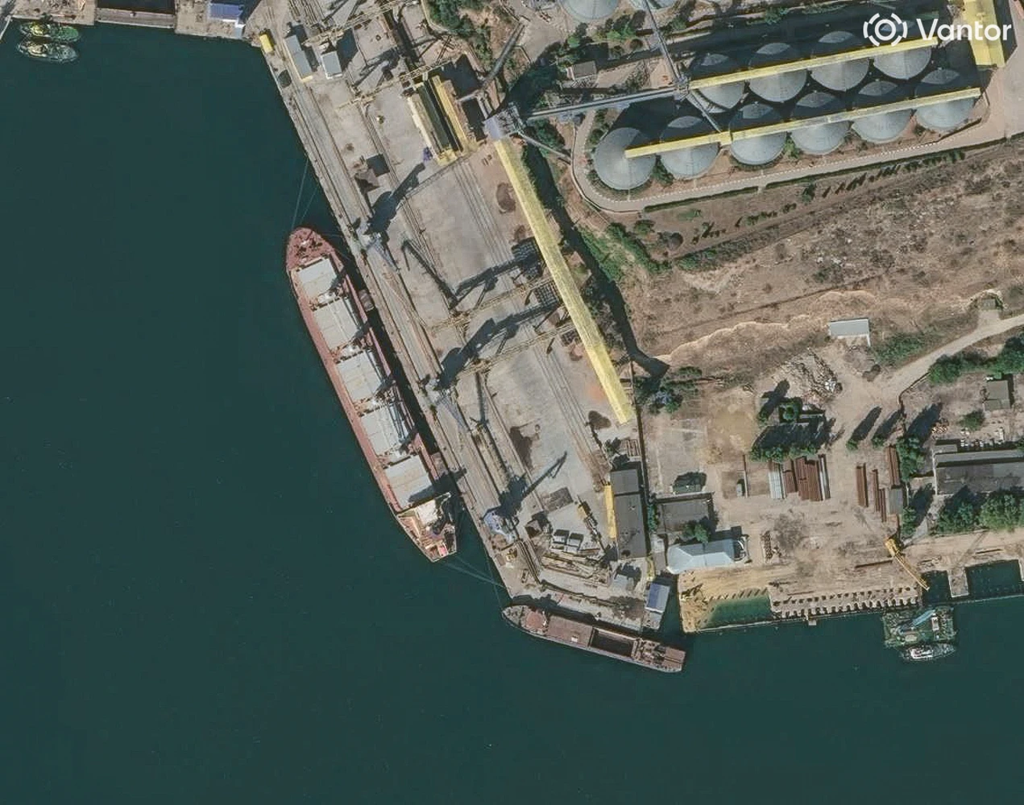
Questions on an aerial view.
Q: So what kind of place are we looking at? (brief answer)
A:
port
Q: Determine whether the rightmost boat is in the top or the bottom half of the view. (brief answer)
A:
bottom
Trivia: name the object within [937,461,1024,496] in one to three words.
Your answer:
building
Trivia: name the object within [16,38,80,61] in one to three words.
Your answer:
boat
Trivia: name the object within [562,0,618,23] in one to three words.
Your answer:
silo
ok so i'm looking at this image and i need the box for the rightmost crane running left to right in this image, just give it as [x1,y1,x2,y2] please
[884,609,956,646]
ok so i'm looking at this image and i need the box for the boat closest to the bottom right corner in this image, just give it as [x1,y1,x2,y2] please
[900,642,957,662]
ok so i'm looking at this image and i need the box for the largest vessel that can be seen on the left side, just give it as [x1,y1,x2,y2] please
[287,227,457,562]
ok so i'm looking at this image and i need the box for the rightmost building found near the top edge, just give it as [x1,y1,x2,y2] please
[964,0,1005,67]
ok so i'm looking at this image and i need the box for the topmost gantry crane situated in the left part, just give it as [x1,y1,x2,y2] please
[302,0,421,50]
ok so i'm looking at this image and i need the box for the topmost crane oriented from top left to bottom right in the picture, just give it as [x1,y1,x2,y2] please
[350,209,401,273]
